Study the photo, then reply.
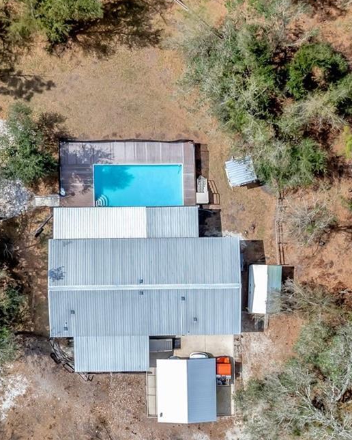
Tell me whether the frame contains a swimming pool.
Yes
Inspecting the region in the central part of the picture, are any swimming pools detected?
Yes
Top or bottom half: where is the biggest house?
bottom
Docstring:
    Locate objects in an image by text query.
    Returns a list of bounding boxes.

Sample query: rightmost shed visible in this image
[246,265,283,313]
